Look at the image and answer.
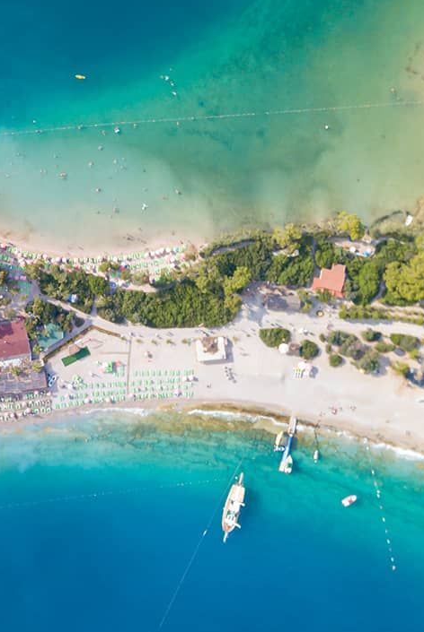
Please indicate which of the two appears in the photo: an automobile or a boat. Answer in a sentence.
This aerial view contains a boat.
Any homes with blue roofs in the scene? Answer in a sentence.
No, this view has no home with a blue roof in it.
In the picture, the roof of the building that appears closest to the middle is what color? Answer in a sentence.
From above, the roof of the building that appears closest to the middle looks white.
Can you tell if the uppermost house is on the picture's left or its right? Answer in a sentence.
The uppermost house appears in the right half of the scene.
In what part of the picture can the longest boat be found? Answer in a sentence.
You can find the longest boat in the bottom area of the picture.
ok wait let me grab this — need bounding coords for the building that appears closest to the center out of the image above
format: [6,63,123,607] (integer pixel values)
[195,337,226,362]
